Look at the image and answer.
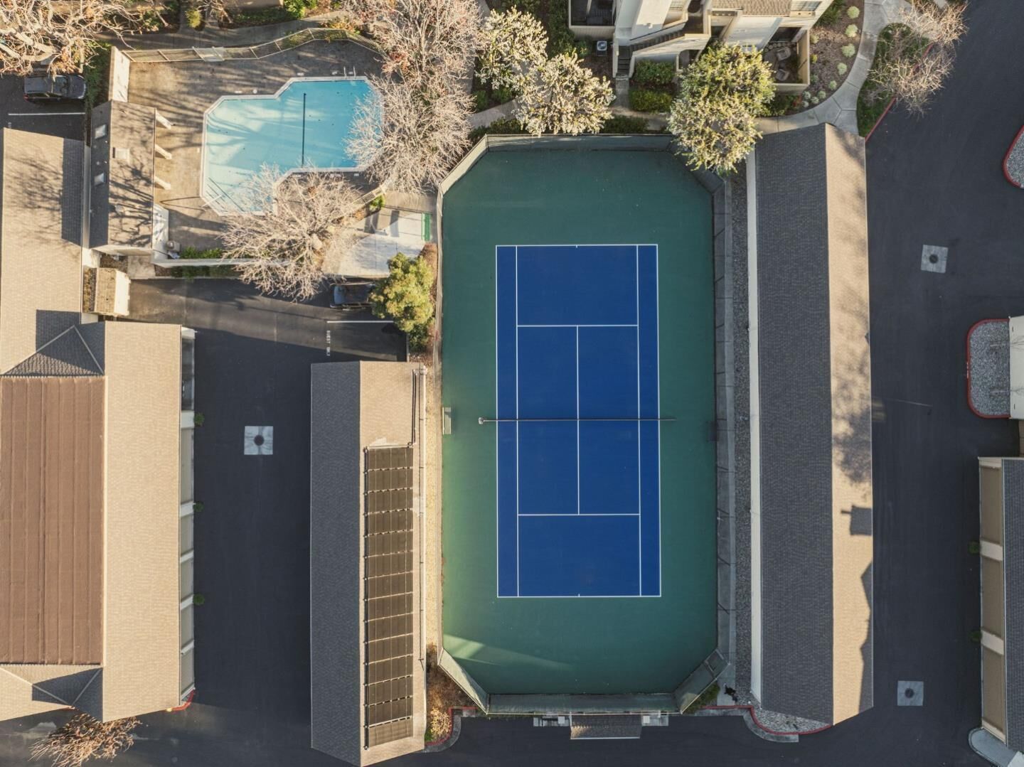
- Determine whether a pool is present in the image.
Yes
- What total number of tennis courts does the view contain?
1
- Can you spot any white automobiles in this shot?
No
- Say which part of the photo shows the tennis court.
center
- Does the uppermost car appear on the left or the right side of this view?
left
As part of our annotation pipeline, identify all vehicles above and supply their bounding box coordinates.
[327,275,393,308]
[15,65,86,103]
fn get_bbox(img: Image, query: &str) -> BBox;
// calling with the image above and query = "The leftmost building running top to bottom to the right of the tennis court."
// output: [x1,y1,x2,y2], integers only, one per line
[748,126,874,731]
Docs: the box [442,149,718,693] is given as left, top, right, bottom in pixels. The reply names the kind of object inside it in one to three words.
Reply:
tennis court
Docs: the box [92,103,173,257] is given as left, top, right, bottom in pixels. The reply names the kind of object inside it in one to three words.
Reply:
building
